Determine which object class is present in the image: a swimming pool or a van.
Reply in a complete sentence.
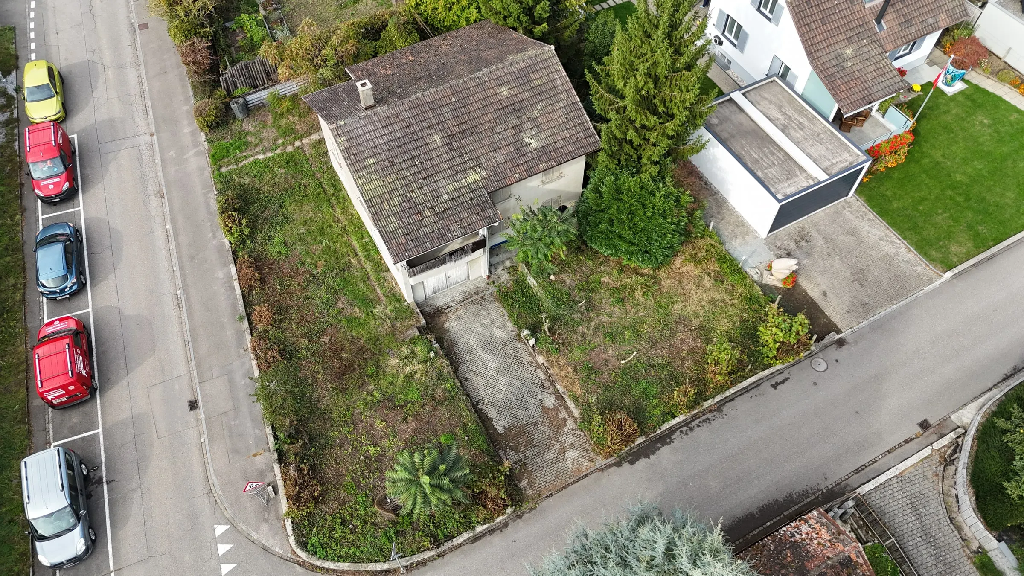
It is a van that can be seen here.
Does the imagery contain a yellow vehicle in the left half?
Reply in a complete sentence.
Yes, a yellow vehicle can be seen in the left half.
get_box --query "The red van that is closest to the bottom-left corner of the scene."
[22,317,95,421]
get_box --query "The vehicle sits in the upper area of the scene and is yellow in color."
[13,60,66,125]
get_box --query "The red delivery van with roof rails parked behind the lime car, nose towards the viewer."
[18,118,78,207]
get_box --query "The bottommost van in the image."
[20,451,95,571]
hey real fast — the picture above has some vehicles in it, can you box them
[24,222,86,308]
[18,118,78,207]
[20,451,95,571]
[13,60,66,125]
[22,317,95,421]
